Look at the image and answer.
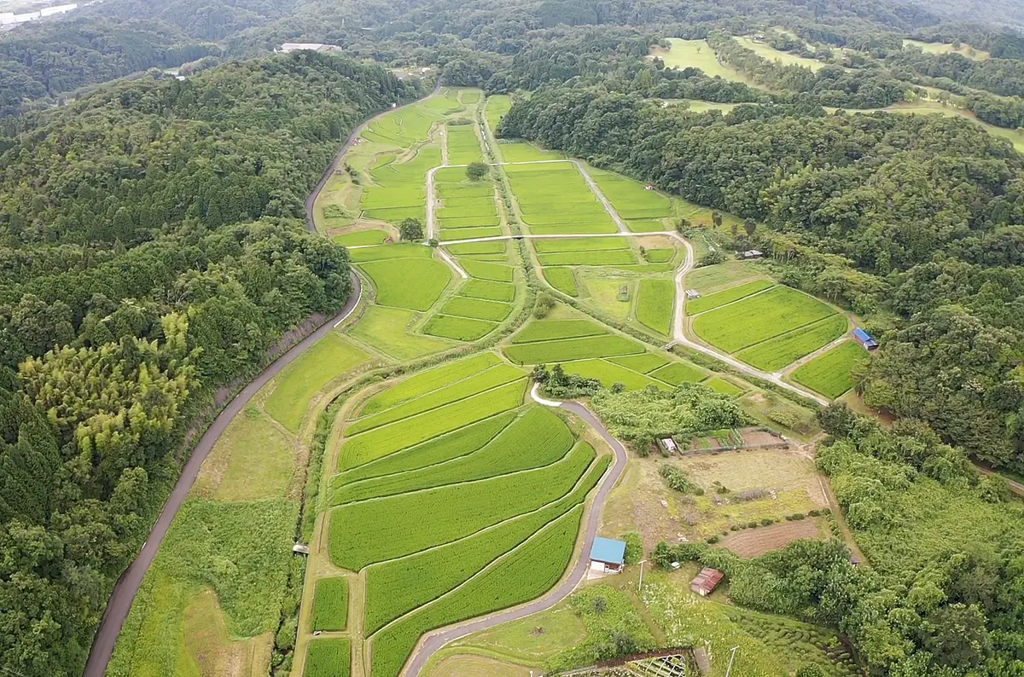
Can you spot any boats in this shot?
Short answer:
No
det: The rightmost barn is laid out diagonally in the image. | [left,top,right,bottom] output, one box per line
[849,327,879,353]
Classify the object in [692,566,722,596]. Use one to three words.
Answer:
shed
